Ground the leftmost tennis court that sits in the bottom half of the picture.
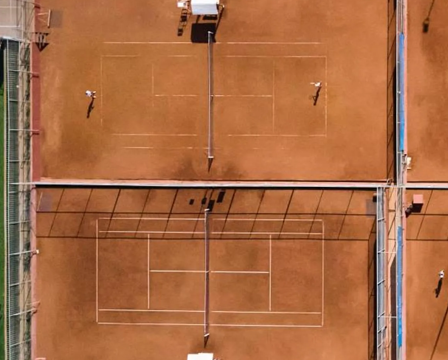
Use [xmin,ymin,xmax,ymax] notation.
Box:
[36,185,385,360]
